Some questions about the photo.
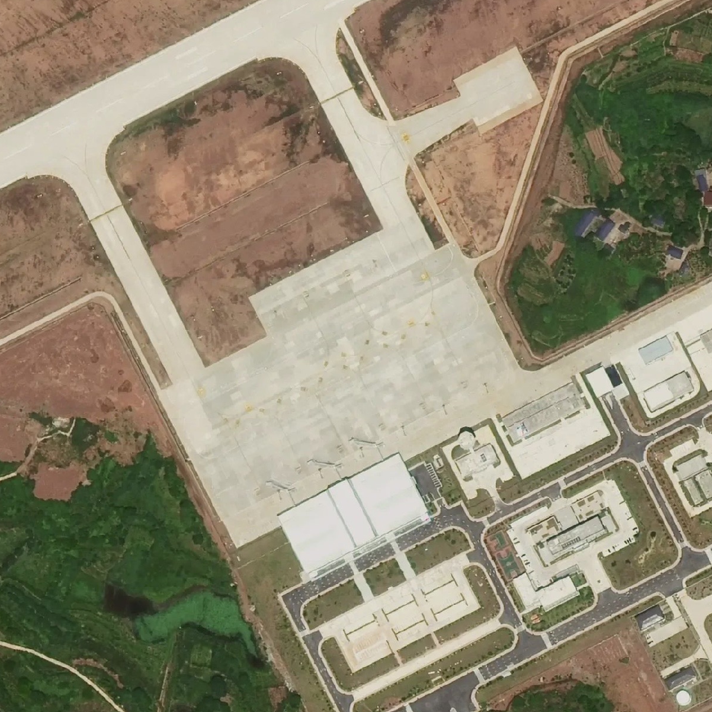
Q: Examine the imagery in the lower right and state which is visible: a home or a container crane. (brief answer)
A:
home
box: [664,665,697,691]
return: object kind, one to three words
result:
house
